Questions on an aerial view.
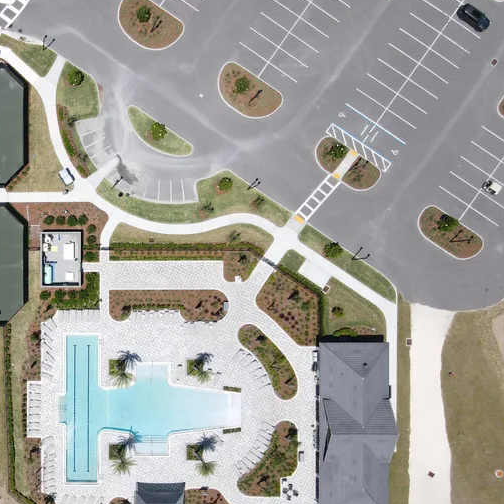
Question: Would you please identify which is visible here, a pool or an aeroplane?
pool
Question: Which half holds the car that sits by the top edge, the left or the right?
right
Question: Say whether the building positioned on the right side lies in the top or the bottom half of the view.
bottom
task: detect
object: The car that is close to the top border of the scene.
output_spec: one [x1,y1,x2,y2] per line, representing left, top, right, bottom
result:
[457,4,488,32]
